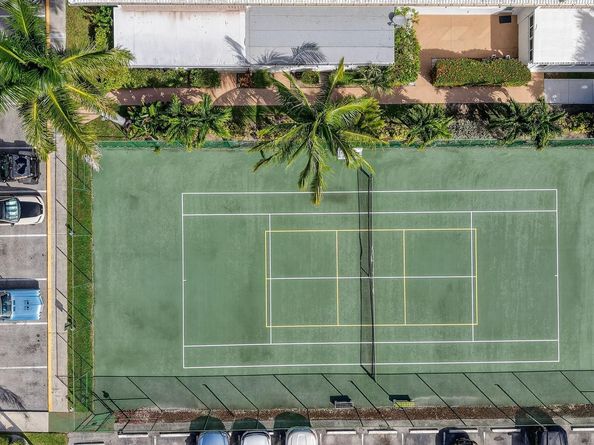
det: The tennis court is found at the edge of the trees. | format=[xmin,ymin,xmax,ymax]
[94,145,594,411]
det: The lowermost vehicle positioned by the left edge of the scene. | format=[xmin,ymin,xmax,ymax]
[0,287,47,325]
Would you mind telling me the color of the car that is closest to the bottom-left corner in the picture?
blue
